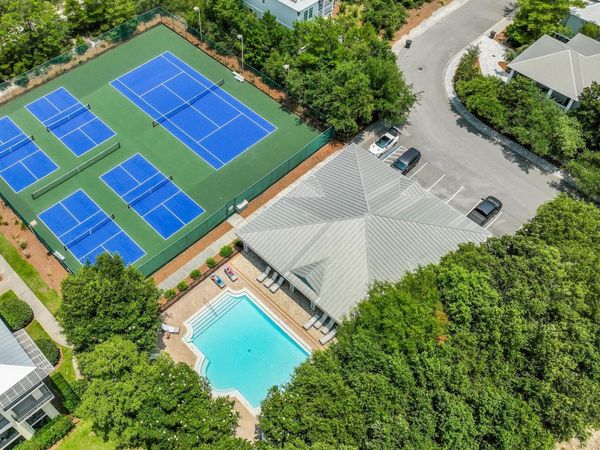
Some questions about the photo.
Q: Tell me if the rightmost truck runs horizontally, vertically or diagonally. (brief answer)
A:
diagonally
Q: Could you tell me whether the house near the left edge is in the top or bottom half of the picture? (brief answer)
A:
bottom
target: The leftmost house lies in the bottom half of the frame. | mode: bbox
[0,321,59,444]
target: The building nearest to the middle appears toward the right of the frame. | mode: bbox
[236,146,493,327]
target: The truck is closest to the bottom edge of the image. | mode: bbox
[466,195,503,229]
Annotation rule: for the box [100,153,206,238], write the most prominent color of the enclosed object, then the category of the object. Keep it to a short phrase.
blue sports court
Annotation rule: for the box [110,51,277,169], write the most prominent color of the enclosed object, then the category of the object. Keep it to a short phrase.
blue tennis court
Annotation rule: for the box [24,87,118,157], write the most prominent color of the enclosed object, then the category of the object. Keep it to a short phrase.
blue sports court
